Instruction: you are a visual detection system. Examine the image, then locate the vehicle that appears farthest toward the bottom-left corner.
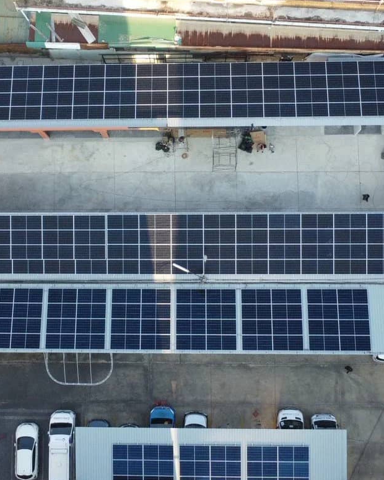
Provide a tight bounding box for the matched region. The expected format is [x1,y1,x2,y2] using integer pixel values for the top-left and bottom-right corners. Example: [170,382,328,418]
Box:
[10,423,38,480]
